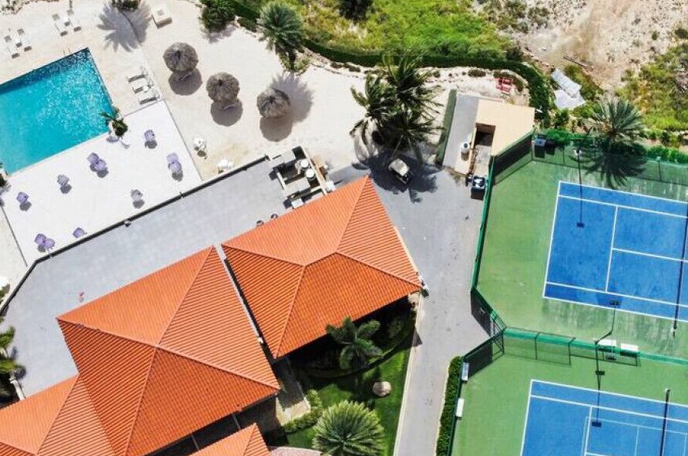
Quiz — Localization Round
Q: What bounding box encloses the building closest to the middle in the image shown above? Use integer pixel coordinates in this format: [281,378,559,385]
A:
[220,176,424,357]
